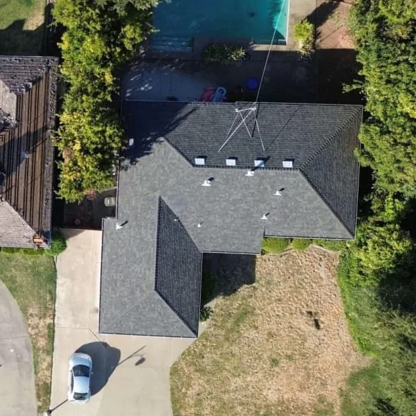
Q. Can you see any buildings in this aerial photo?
Yes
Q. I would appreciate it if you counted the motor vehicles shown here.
1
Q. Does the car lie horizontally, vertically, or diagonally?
vertically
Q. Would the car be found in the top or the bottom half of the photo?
bottom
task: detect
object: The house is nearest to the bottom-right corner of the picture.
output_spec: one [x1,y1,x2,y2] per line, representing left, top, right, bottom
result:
[97,99,363,339]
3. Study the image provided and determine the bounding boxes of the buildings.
[97,99,363,339]
[0,54,60,250]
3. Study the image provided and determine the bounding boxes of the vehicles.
[68,351,95,403]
